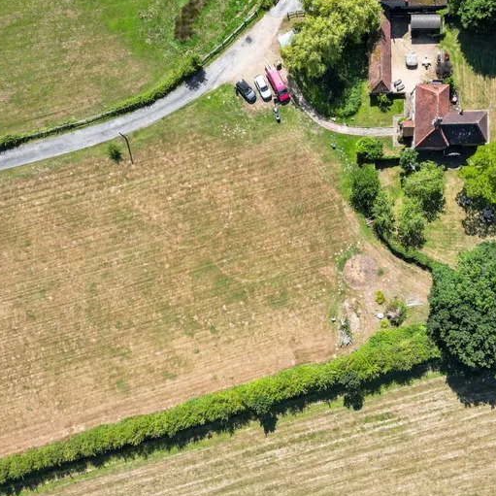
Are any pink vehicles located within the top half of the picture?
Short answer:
Yes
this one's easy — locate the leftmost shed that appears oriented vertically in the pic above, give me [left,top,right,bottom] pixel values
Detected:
[368,7,392,92]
